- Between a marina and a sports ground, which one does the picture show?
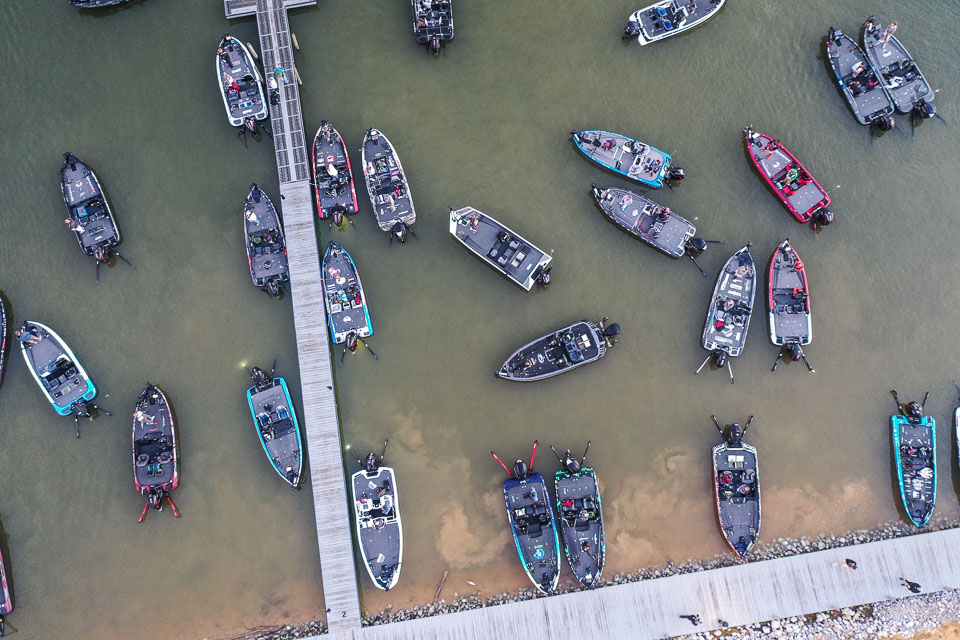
marina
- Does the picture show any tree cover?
No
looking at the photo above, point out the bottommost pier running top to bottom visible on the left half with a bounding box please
[280,180,364,634]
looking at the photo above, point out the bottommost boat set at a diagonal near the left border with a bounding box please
[18,318,112,438]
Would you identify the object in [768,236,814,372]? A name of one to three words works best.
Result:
boat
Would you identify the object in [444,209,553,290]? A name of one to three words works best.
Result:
boat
